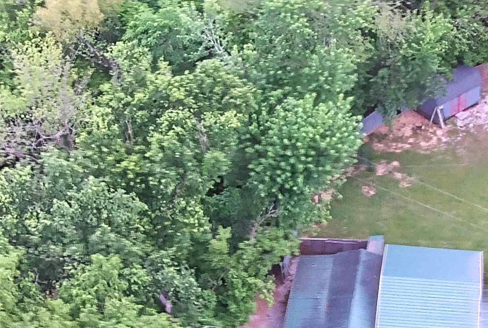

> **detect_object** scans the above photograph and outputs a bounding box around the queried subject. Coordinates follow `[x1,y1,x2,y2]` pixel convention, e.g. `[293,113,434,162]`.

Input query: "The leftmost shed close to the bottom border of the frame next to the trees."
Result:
[285,248,382,328]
